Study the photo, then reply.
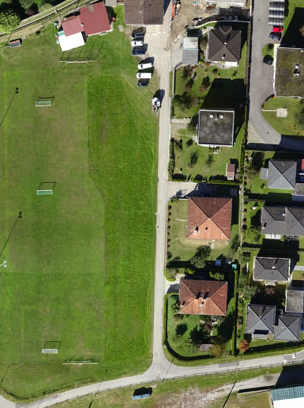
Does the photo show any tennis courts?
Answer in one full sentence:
No, the scene contains no tennis court.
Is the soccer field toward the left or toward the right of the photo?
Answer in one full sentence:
The soccer field sits on the left side.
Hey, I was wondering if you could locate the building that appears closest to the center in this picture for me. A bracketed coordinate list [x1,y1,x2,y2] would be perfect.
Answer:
[188,197,232,241]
